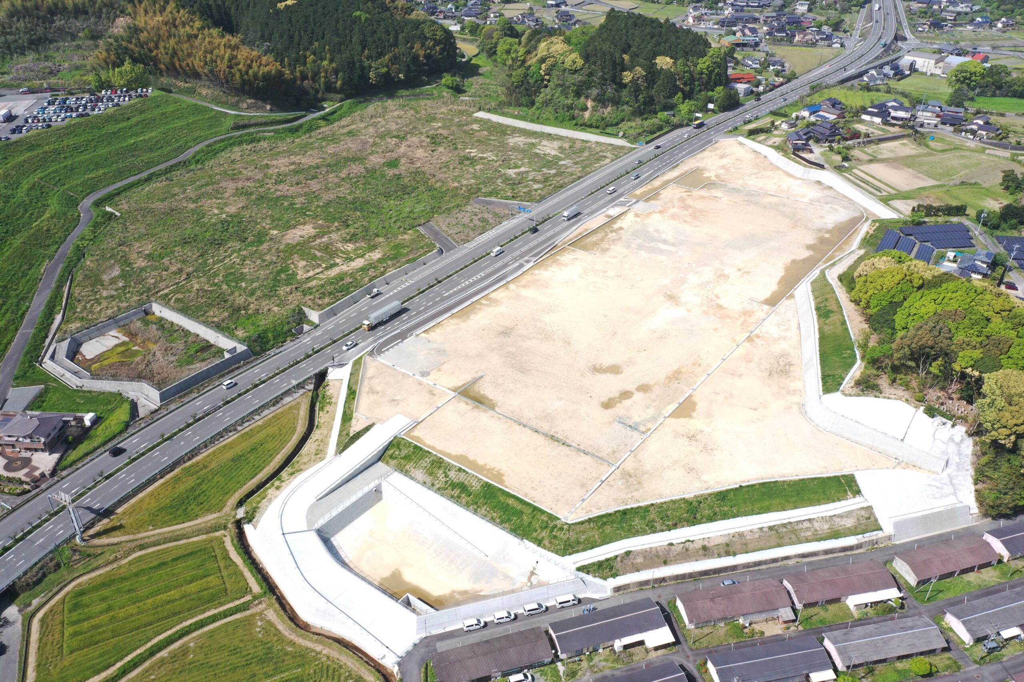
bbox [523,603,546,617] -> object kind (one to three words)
vehicle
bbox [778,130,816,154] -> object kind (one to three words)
barn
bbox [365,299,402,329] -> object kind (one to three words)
truck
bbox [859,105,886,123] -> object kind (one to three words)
house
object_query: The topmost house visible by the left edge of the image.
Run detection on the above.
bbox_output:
[0,409,81,455]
